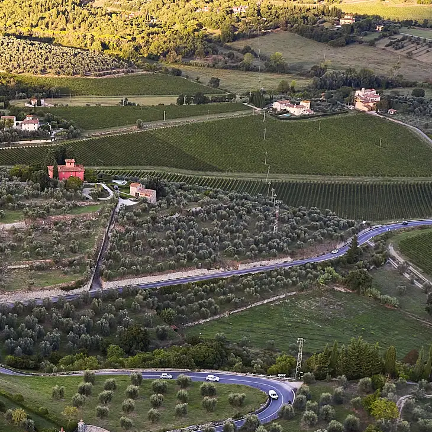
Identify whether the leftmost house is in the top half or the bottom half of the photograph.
top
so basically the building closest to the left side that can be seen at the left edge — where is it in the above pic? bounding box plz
[0,110,39,133]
